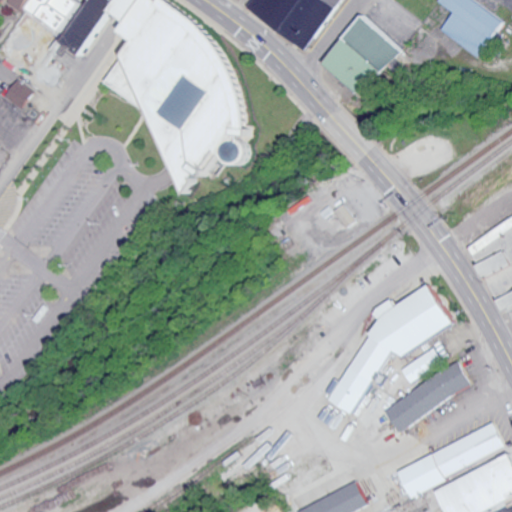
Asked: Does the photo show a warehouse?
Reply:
Yes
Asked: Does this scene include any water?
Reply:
No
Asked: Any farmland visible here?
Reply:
No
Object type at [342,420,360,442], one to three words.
vehicle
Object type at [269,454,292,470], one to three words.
vehicle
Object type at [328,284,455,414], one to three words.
warehouse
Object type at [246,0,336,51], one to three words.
building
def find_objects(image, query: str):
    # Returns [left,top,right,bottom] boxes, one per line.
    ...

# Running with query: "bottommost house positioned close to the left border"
[6,79,36,109]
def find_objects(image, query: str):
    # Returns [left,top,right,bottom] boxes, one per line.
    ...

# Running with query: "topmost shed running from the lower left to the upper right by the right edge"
[468,217,512,254]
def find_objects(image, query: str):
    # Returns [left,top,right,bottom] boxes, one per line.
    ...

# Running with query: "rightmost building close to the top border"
[440,0,504,61]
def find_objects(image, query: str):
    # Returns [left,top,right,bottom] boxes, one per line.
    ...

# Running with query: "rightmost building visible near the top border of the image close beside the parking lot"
[102,0,253,196]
